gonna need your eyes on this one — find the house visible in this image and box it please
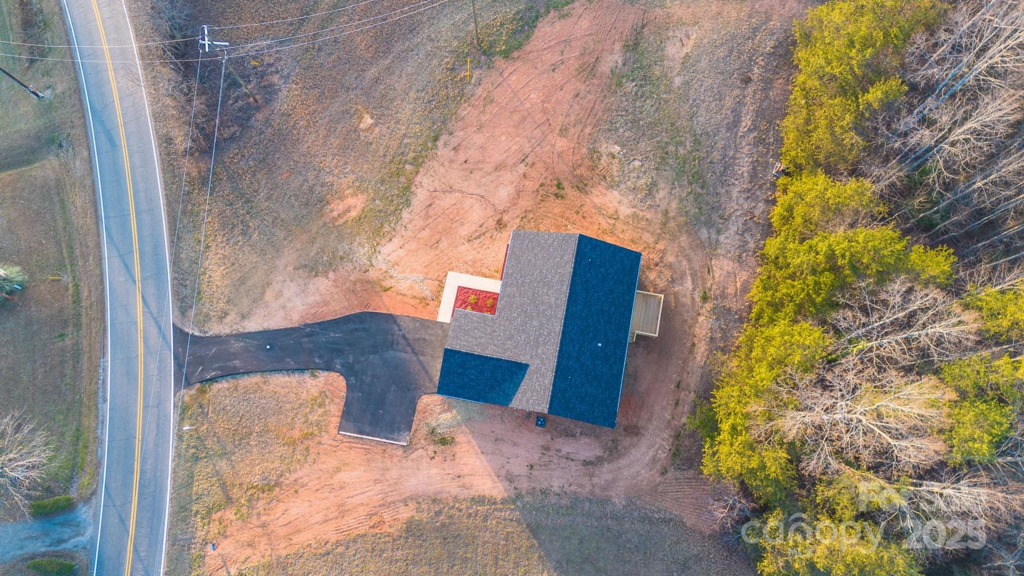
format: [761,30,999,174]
[435,230,644,429]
